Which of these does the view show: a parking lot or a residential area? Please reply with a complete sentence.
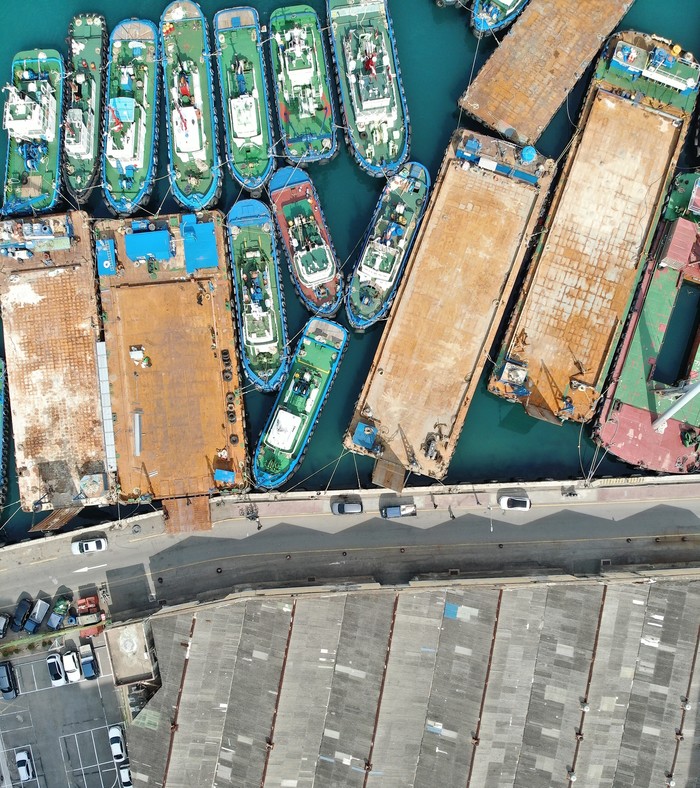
The picture captures a parking lot.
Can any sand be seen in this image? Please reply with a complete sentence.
No, there's no sand in this view.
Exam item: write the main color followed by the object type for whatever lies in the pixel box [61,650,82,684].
white car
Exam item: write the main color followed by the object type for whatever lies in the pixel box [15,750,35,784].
white car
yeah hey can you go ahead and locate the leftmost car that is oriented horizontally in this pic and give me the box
[70,537,108,556]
